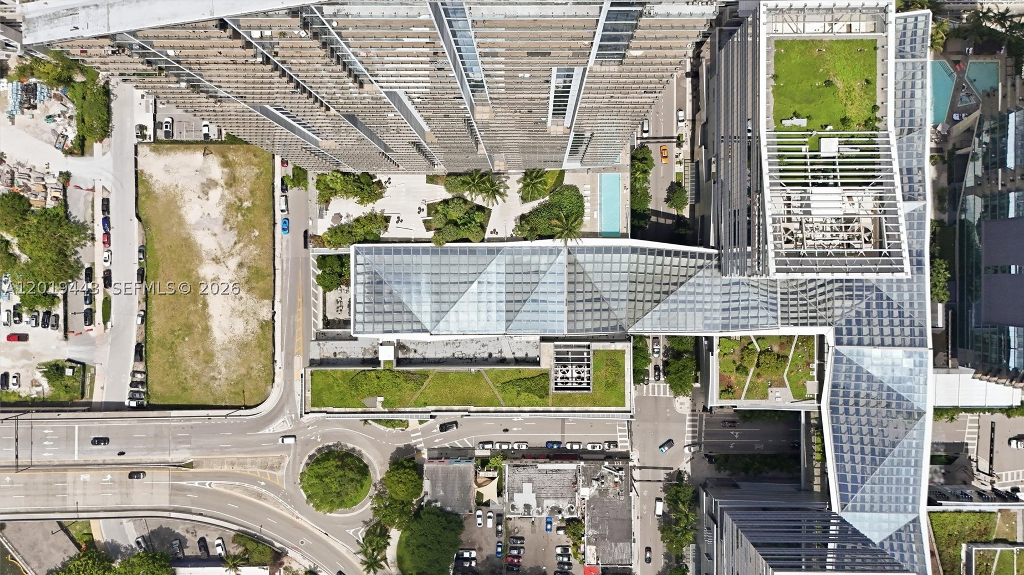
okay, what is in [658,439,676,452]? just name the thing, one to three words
vehicle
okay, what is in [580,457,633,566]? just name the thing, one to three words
building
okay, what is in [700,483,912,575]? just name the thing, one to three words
building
